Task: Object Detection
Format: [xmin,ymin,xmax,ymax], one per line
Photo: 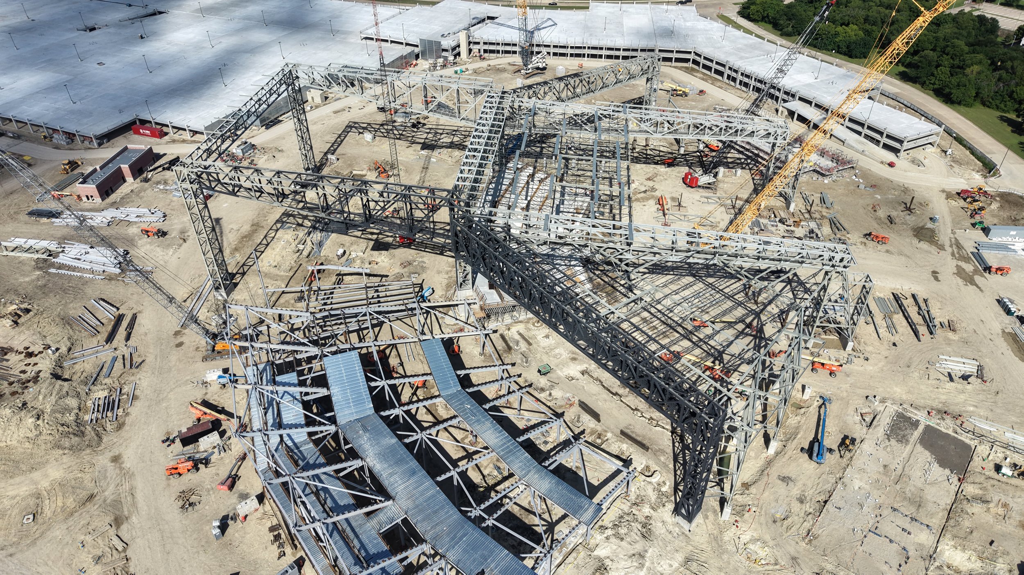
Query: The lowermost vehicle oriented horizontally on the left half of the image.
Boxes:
[160,453,215,476]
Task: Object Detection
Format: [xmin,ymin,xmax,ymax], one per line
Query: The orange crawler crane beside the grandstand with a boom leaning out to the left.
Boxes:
[191,327,254,363]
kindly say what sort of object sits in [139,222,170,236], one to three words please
work vehicle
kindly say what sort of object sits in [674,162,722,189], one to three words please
crane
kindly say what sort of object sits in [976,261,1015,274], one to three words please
vehicle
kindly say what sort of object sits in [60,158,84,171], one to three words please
vehicle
